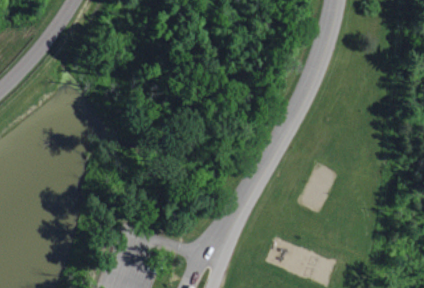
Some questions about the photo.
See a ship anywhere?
No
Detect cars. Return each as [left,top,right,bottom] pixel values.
[190,272,198,286]
[204,247,214,260]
